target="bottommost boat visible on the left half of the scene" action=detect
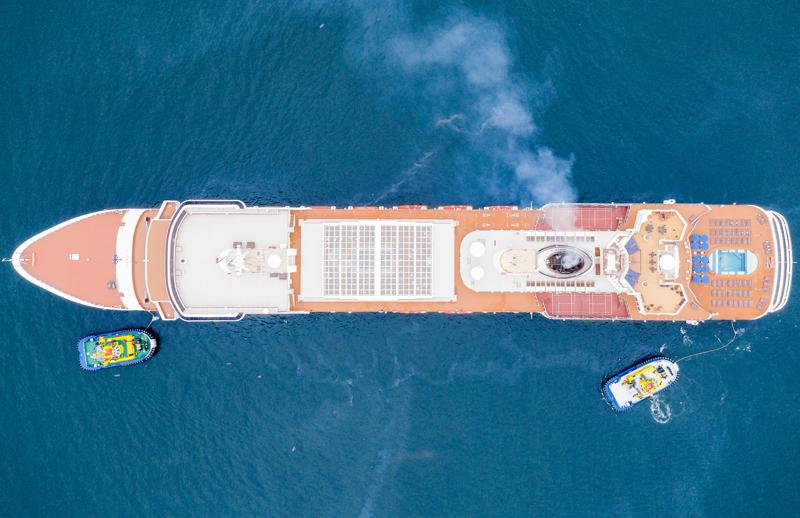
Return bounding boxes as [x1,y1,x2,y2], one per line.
[76,330,159,373]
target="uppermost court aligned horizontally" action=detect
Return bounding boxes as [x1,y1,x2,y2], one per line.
[538,204,636,230]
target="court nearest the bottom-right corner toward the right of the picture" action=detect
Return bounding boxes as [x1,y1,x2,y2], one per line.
[538,294,634,320]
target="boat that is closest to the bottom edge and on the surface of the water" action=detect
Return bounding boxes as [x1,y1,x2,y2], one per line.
[599,359,683,415]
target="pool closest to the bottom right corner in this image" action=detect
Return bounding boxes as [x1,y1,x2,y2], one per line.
[706,248,760,277]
